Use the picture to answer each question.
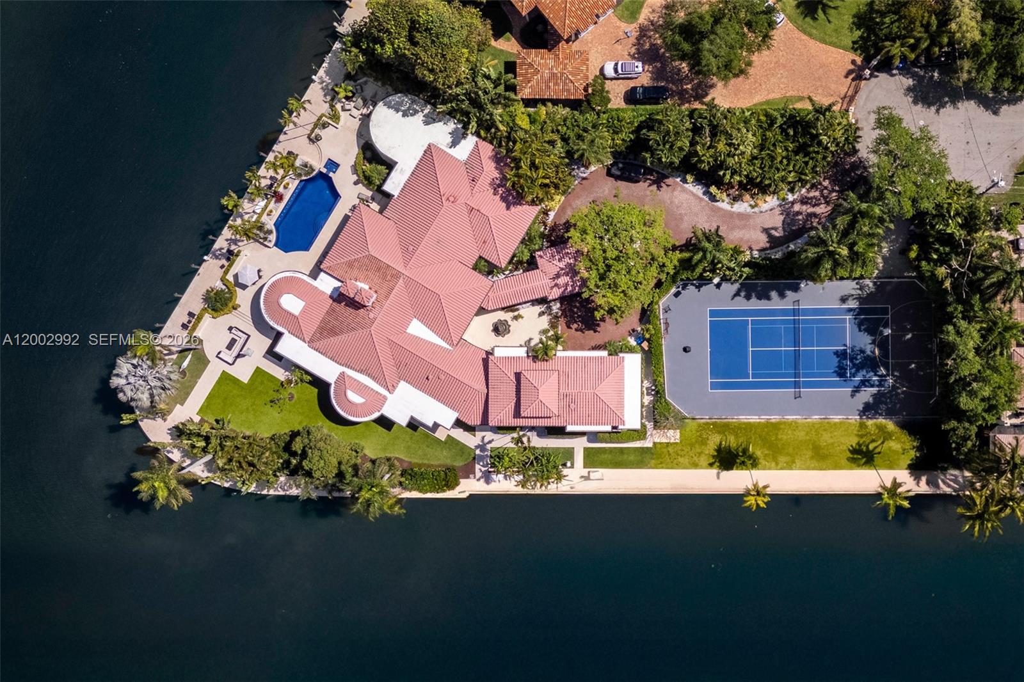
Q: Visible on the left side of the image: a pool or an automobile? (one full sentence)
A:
The feature located on the left side of the image is a pool.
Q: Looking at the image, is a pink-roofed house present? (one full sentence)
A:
Yes, the photo shows a pink-roofed house.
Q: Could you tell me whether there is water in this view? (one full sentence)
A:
Yes, the picture does contain water.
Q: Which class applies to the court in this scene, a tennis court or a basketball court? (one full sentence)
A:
The court can be classified as a tennis court.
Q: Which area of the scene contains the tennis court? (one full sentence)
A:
Look in the right portion of the view to spot the tennis court.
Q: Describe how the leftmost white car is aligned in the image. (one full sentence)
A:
What the image shows is the leftmost white car lying from left to right.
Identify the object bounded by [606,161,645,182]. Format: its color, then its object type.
black car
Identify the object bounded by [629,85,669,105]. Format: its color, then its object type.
black car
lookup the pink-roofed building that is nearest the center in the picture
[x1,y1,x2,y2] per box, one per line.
[260,94,641,432]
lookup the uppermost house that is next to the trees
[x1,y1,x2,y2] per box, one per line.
[512,0,617,105]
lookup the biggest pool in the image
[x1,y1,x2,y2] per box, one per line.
[271,155,344,255]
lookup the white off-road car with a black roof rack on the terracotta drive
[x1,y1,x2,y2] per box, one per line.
[602,60,641,80]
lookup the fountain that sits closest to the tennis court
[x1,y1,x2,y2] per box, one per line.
[491,318,511,337]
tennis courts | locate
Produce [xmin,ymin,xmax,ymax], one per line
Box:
[659,279,939,418]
